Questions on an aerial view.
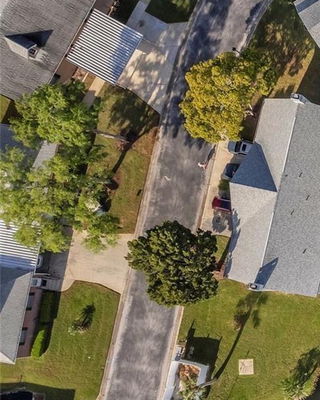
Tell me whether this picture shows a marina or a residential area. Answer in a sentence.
This image shows a residential area.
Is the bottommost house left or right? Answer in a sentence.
The bottommost house appears in the left half of the scene.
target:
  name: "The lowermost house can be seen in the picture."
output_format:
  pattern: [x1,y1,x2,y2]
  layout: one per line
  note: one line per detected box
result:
[0,270,59,365]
